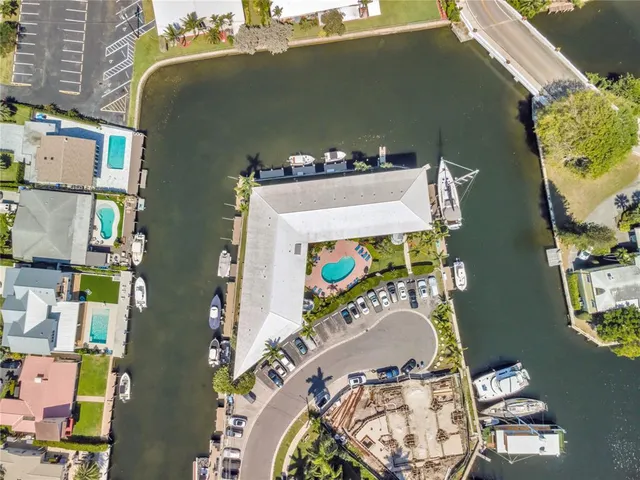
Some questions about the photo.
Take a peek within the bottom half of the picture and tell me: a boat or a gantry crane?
boat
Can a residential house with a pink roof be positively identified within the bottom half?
Yes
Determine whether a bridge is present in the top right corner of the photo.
Yes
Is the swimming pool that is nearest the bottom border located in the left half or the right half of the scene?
left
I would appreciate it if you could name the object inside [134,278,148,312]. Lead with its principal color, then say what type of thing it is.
white boat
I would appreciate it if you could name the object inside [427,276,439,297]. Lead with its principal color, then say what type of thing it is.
white vehicle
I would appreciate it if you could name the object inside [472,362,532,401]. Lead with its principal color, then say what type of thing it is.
white boat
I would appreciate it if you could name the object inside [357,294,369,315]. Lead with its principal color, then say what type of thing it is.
white vehicle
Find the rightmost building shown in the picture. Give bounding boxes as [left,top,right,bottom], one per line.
[576,256,640,312]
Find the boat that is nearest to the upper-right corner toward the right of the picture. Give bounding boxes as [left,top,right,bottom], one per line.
[438,156,478,231]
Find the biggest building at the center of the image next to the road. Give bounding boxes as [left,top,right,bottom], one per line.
[234,162,432,379]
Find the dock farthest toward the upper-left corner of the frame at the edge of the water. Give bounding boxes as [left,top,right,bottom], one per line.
[128,132,148,194]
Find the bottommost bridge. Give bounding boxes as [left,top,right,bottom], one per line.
[471,19,592,99]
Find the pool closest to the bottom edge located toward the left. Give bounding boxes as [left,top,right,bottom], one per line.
[88,308,111,345]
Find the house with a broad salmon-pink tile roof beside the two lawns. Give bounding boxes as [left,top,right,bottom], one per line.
[0,355,80,433]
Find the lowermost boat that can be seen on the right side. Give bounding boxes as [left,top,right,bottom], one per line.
[482,423,566,461]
